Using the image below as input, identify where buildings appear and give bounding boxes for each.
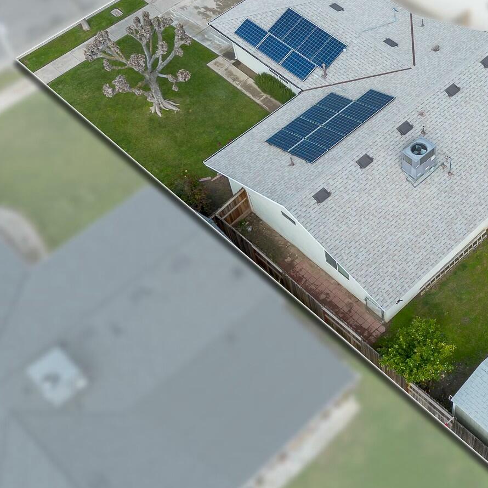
[203,0,488,322]
[0,189,361,488]
[446,355,488,447]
